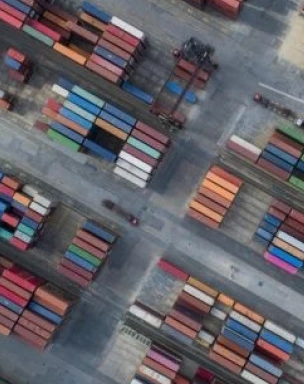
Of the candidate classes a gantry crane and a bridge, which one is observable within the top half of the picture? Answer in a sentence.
Visible within the top half of the picture is a gantry crane.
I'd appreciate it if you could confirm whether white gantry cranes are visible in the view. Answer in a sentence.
No, no white gantry crane is visible in the scene.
